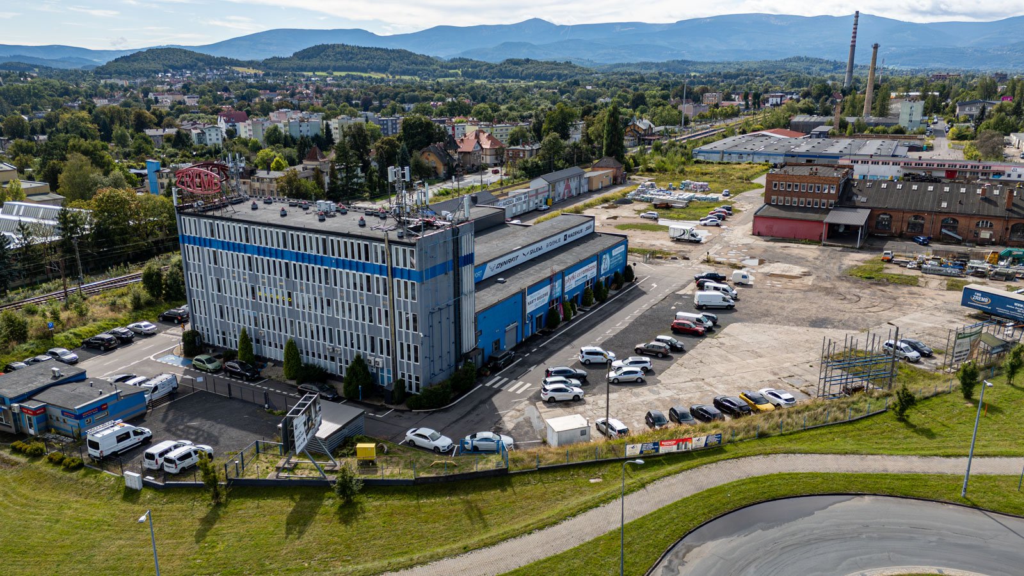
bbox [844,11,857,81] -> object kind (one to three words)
chimney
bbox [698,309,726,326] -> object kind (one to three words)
car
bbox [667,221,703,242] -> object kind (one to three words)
truck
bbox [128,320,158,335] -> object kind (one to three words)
car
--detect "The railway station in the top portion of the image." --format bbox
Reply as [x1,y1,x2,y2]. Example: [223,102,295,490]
[621,110,684,150]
